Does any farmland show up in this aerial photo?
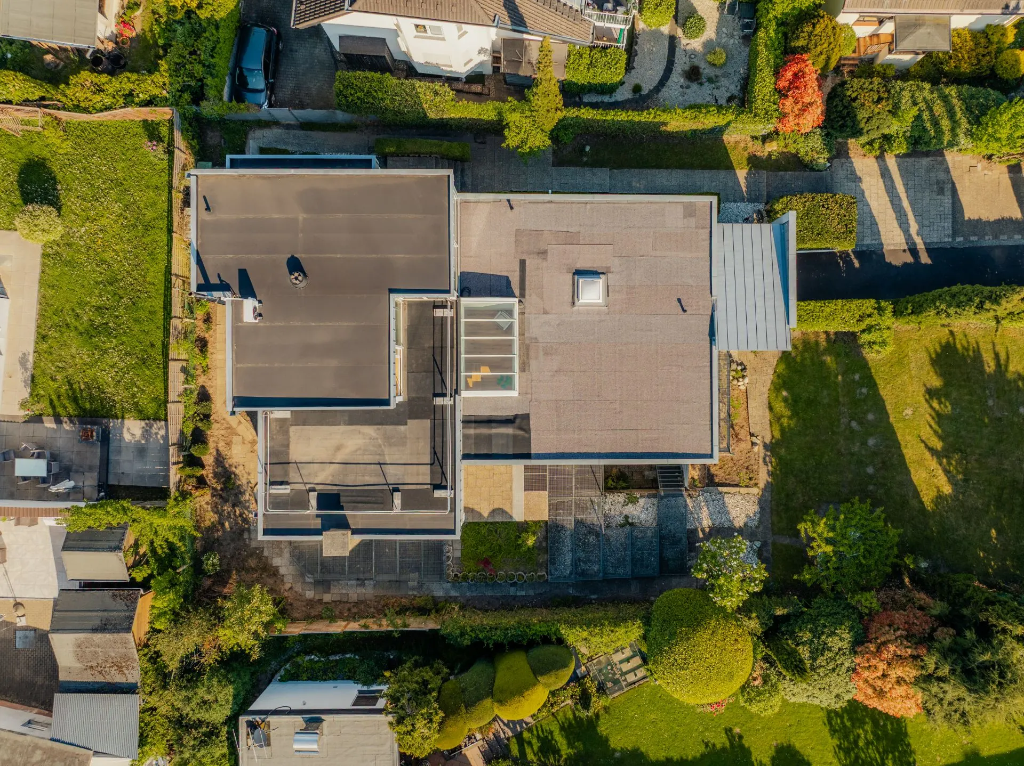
No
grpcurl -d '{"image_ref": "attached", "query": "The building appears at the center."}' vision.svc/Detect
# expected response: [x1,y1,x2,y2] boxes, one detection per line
[186,155,718,539]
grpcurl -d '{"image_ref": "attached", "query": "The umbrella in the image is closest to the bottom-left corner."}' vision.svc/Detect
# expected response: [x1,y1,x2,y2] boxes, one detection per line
[47,477,83,491]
